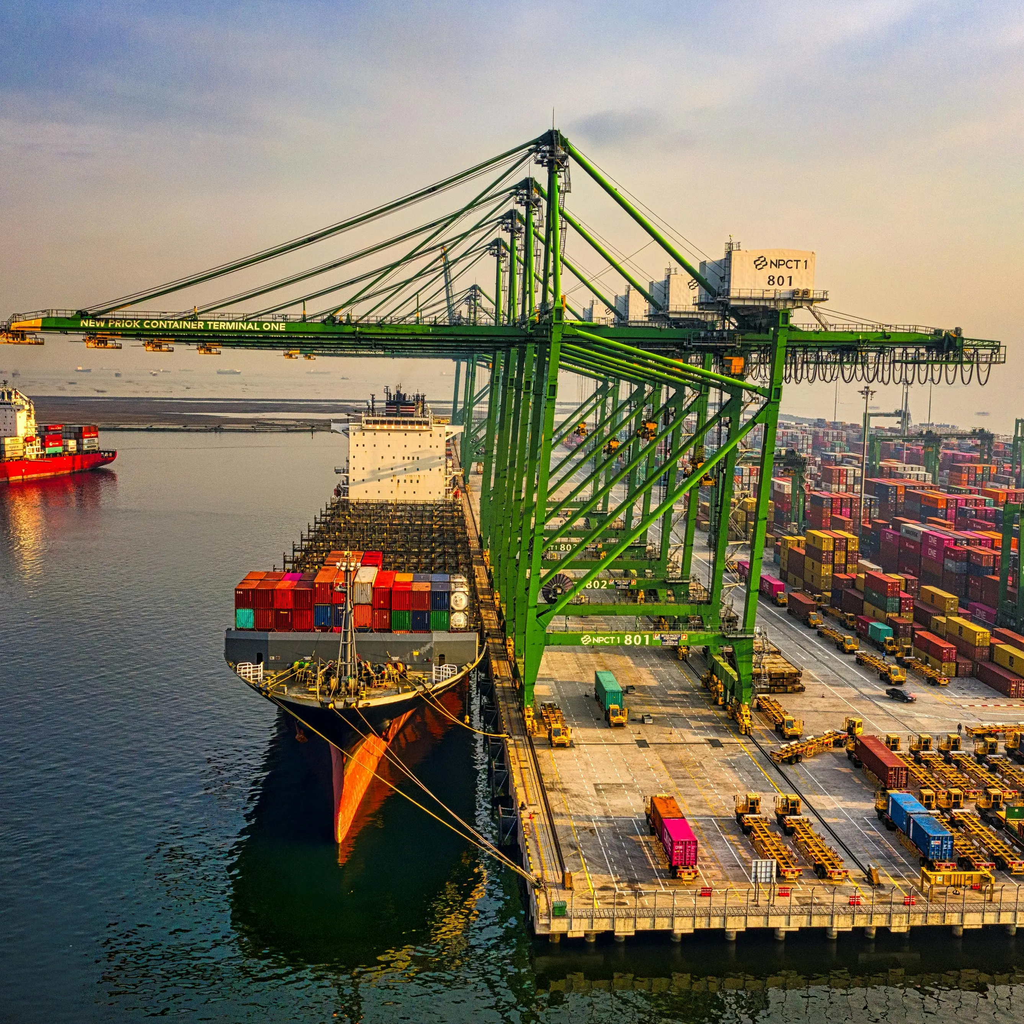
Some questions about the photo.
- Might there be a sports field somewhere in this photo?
No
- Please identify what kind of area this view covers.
port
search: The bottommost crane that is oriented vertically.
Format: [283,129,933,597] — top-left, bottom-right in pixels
[993,504,1024,634]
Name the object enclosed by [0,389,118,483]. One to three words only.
ship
